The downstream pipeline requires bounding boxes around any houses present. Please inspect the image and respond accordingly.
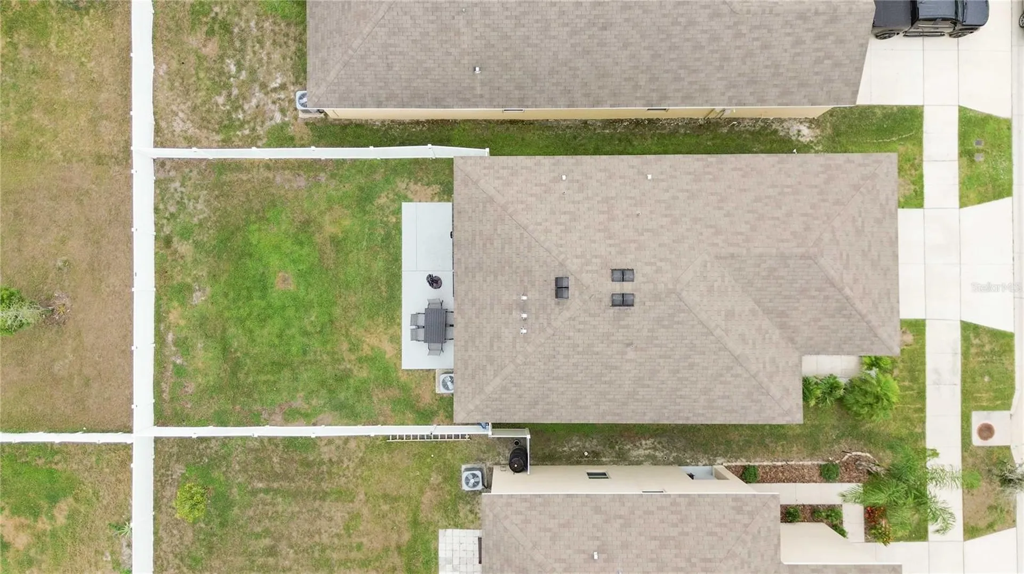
[482,464,901,574]
[452,153,900,424]
[306,0,873,125]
